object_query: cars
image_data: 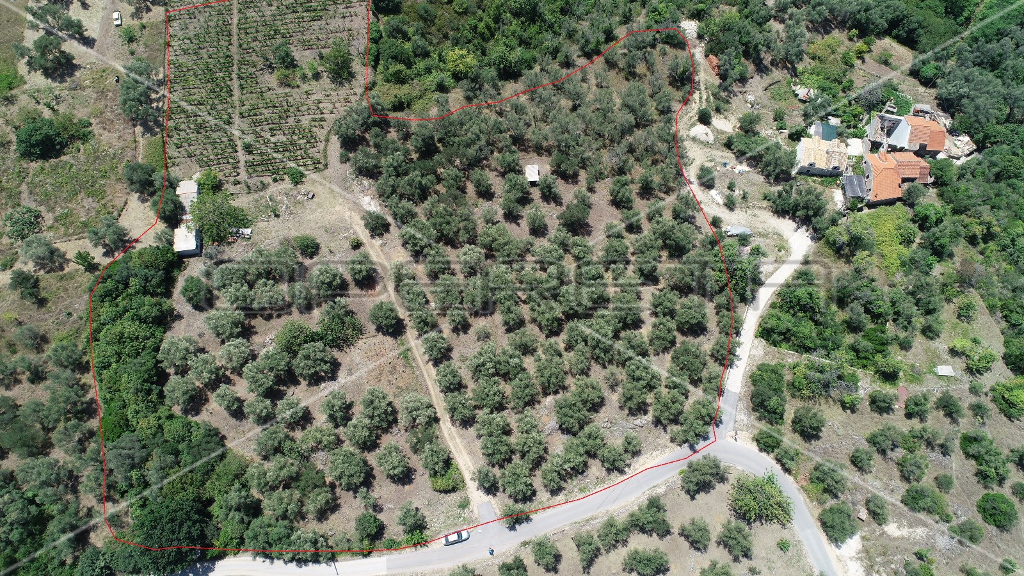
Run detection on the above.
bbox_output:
[442,530,470,547]
[109,8,121,25]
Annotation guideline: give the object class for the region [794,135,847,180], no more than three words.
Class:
house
